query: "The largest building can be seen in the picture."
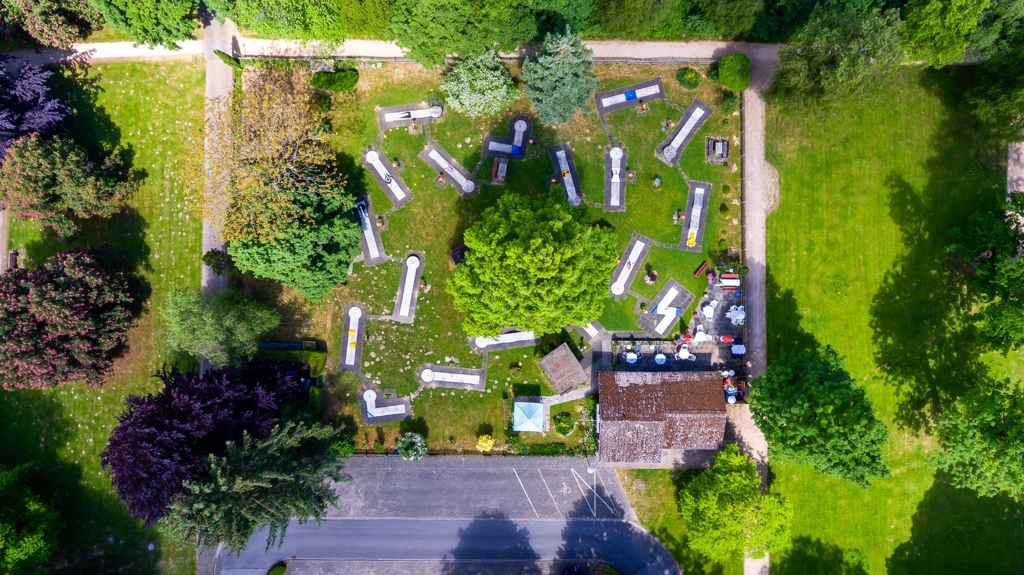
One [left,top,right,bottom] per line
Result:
[597,371,726,463]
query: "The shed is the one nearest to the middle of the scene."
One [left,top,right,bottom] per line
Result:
[539,343,588,396]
